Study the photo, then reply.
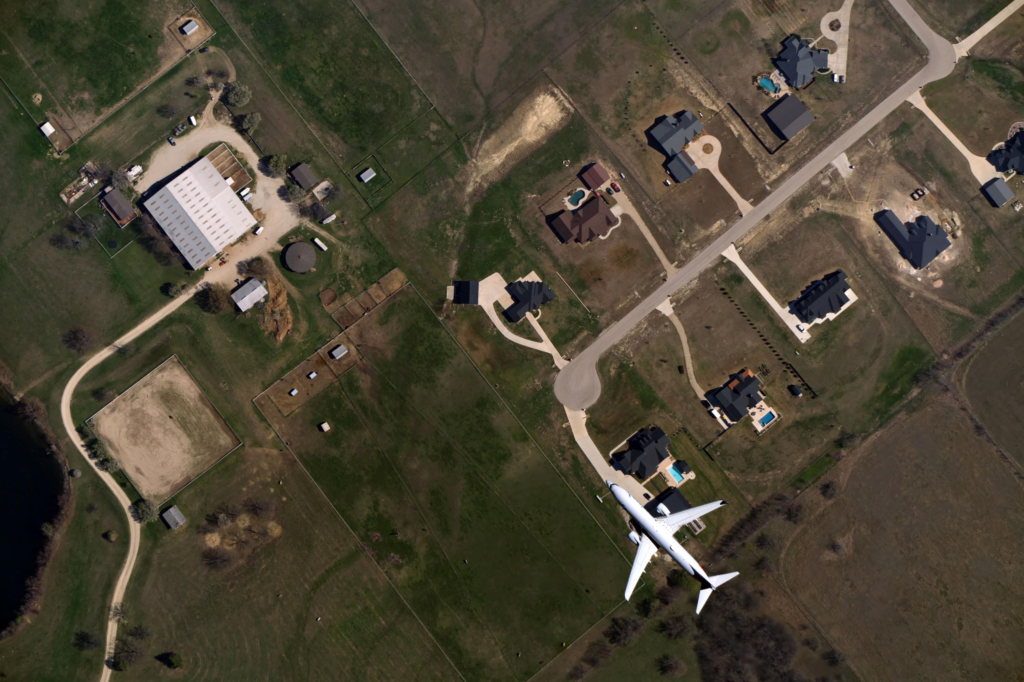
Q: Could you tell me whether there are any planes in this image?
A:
Yes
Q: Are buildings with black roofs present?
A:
Yes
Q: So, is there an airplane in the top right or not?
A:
No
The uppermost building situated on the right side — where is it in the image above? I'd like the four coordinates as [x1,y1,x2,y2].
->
[774,37,828,85]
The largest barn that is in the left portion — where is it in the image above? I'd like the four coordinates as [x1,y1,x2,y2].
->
[144,155,256,269]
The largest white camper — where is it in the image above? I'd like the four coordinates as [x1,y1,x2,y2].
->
[126,165,143,180]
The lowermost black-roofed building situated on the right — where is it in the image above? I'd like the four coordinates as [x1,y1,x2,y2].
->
[647,485,699,536]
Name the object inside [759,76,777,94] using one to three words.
swimming pool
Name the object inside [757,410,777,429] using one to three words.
swimming pool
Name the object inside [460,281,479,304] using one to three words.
building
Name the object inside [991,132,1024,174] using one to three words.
house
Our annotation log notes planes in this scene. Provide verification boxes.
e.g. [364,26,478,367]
[605,479,741,615]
